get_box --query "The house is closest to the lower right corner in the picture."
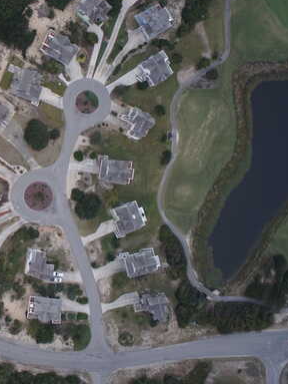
[132,293,166,320]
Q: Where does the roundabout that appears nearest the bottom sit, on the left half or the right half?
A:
left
